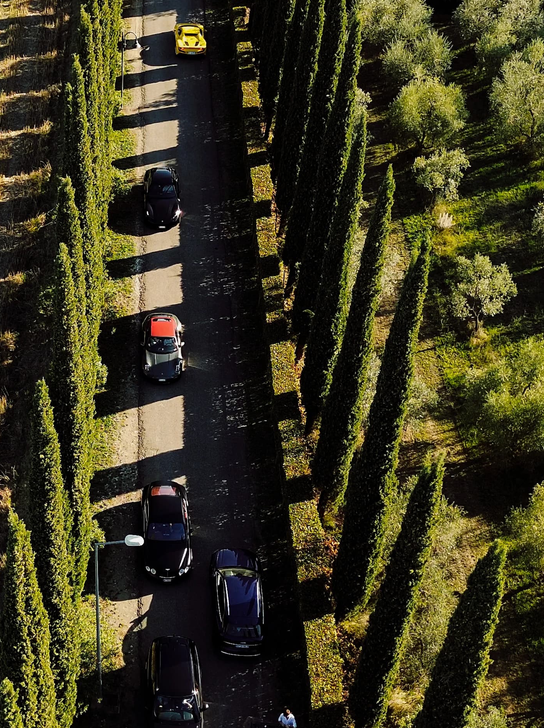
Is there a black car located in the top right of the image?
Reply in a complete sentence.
No, there is no black car in the top right of the image.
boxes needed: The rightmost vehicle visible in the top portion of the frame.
[175,25,207,59]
